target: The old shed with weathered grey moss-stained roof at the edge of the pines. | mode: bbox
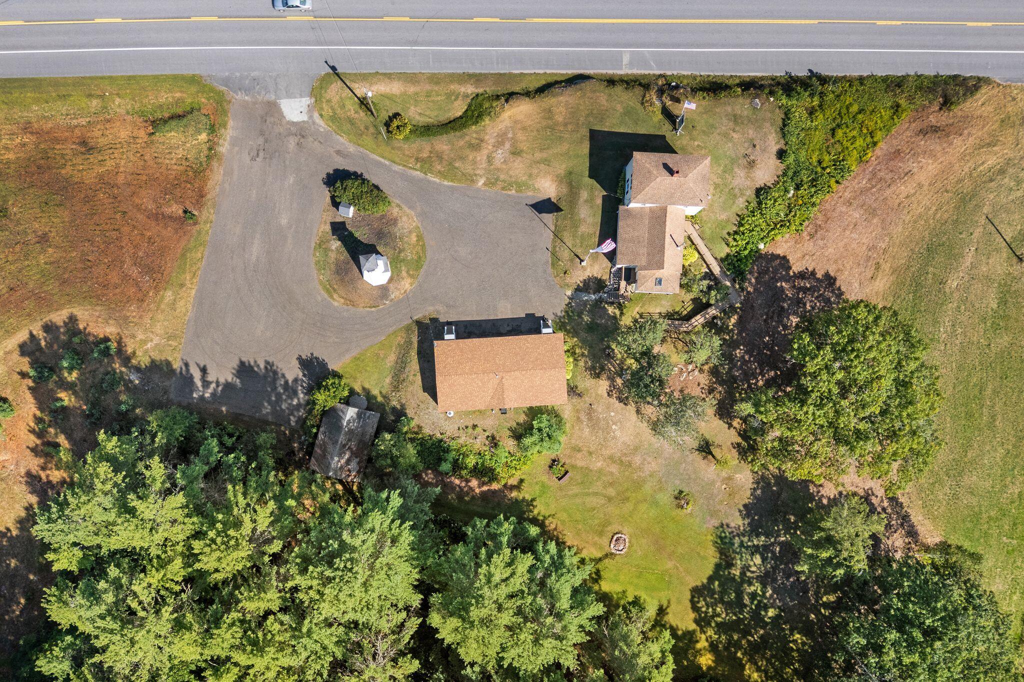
[310,404,381,482]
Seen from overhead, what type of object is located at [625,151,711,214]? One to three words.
house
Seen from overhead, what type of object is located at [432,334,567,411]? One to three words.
building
